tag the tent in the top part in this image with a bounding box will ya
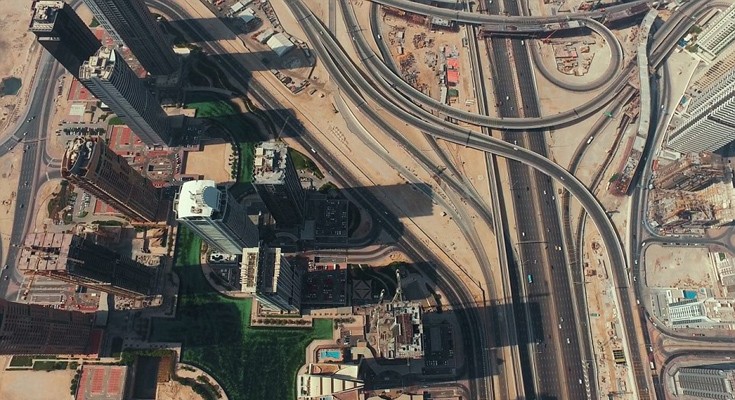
[268,33,295,59]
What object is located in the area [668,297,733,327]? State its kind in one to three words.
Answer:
building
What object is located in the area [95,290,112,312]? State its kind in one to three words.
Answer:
building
